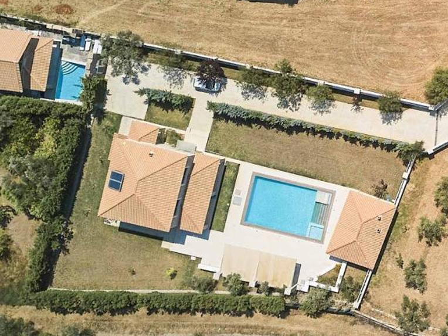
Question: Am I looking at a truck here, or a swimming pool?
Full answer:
It is a swimming pool that can be seen here.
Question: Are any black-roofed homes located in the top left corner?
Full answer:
No, in the top left corner there is no black-roofed home.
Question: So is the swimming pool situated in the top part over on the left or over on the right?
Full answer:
The swimming pool situated in the top part is on the left side of the image.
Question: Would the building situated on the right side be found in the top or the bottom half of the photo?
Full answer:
The building situated on the right side is in the bottom half of the image.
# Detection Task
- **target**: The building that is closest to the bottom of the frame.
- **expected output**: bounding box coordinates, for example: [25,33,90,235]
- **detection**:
[325,190,395,271]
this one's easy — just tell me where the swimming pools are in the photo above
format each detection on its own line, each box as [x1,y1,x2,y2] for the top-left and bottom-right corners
[239,172,333,244]
[52,58,88,103]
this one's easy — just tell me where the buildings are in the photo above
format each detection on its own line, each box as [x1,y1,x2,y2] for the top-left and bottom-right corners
[0,30,61,93]
[325,190,395,271]
[97,118,221,234]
